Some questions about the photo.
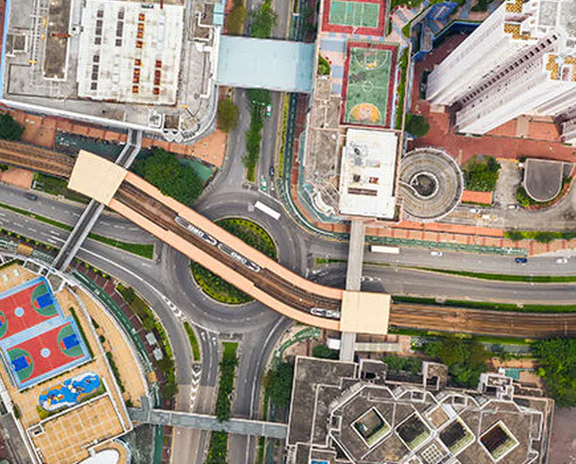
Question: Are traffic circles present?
Yes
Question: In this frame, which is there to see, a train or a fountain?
train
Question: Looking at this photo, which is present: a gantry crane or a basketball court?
basketball court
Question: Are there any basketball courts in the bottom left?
Yes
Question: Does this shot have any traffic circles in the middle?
Yes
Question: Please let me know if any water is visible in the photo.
No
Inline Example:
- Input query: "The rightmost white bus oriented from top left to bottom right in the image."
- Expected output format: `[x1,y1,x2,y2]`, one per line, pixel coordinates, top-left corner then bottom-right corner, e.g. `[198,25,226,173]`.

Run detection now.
[255,200,281,220]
